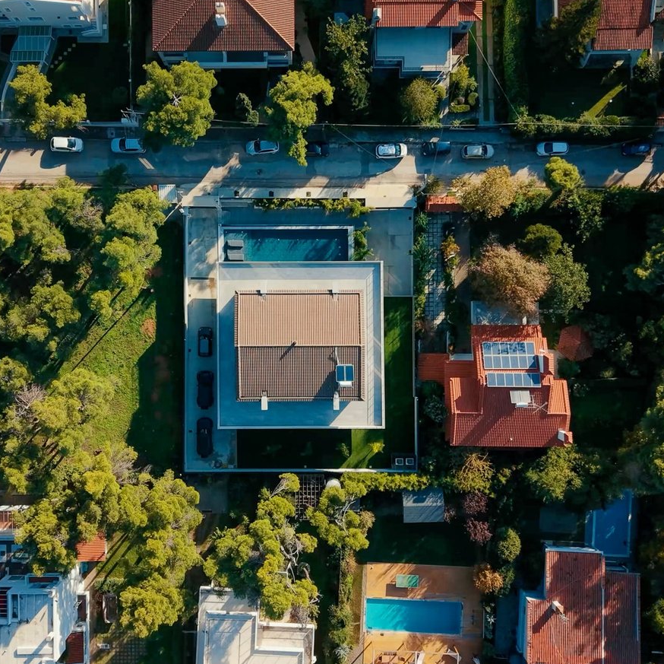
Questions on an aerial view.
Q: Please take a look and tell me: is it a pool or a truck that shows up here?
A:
pool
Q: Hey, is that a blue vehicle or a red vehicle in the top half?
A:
blue vehicle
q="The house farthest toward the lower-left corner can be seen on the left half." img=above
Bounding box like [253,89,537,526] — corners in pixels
[0,500,113,664]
